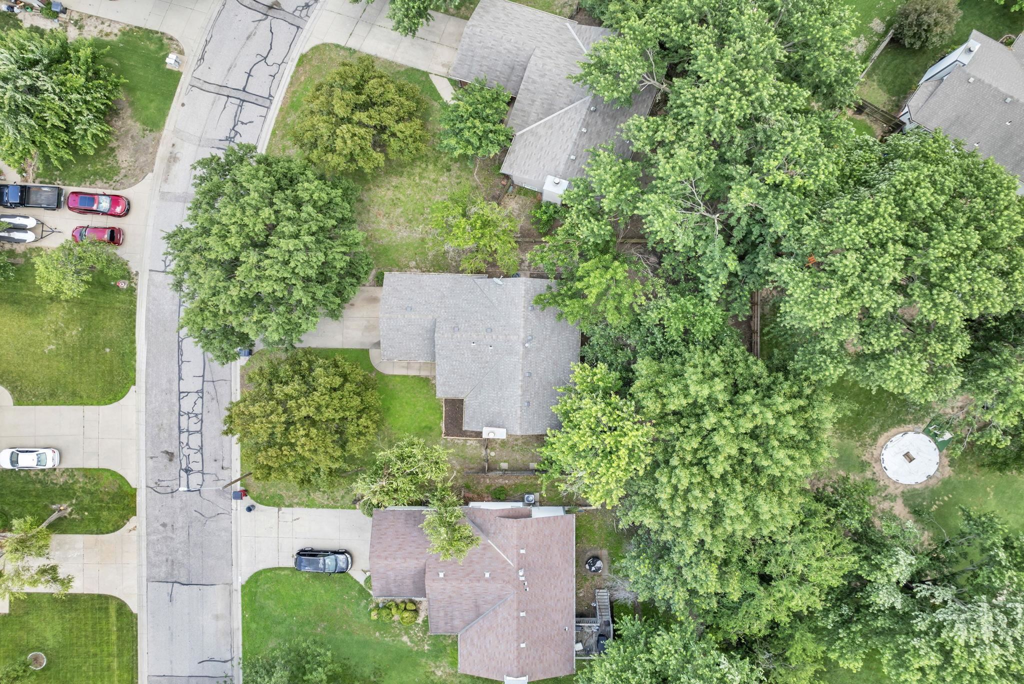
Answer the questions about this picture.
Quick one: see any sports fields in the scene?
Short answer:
No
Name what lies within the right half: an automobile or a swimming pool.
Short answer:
swimming pool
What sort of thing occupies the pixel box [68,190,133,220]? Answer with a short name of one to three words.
car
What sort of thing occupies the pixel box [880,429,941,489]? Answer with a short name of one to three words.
swimming pool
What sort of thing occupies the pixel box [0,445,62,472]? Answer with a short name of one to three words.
car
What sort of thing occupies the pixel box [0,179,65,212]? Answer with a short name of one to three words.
truck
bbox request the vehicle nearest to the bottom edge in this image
[296,545,354,576]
